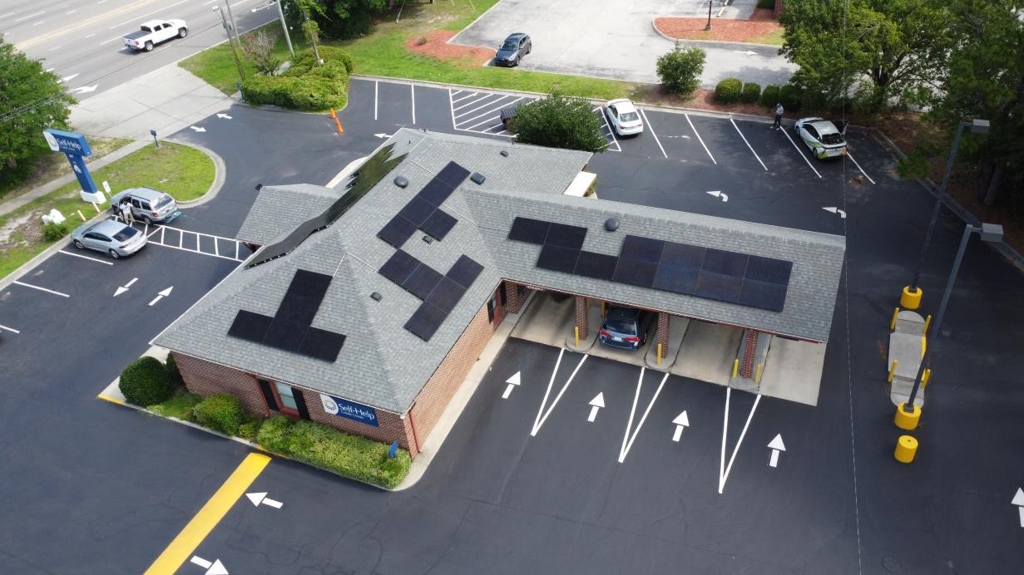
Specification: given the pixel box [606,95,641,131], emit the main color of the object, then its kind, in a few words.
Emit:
white car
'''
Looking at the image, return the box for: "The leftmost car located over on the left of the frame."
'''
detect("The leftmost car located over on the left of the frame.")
[62,216,144,259]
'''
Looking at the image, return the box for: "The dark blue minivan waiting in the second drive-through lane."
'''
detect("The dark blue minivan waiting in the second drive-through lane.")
[602,305,657,351]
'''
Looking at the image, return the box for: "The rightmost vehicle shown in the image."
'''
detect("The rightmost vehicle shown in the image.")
[796,115,850,155]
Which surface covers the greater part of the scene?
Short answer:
paved ground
